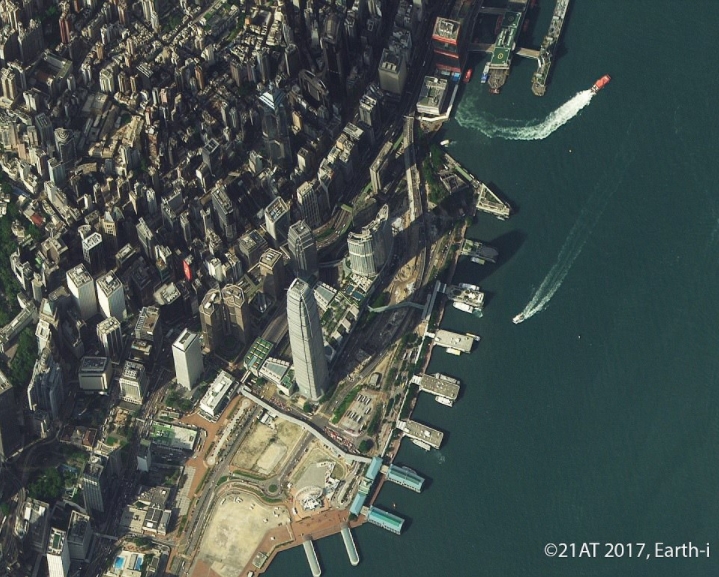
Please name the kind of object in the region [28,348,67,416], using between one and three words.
building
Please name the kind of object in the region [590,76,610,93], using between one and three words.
ship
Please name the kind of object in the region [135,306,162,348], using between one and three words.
building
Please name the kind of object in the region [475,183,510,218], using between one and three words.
pier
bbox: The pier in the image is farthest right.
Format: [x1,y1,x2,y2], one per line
[532,0,569,95]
